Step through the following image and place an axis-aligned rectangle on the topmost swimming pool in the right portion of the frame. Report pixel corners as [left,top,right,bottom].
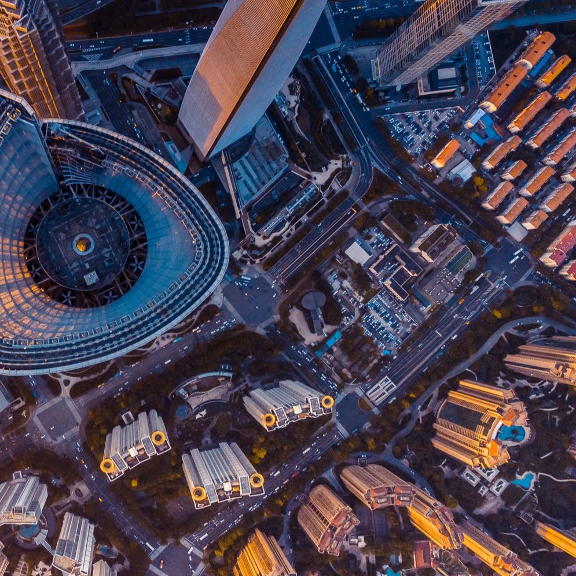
[498,426,524,440]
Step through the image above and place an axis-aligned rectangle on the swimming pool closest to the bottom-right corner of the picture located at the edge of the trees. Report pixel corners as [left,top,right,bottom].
[507,471,536,492]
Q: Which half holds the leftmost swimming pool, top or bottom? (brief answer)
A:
bottom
